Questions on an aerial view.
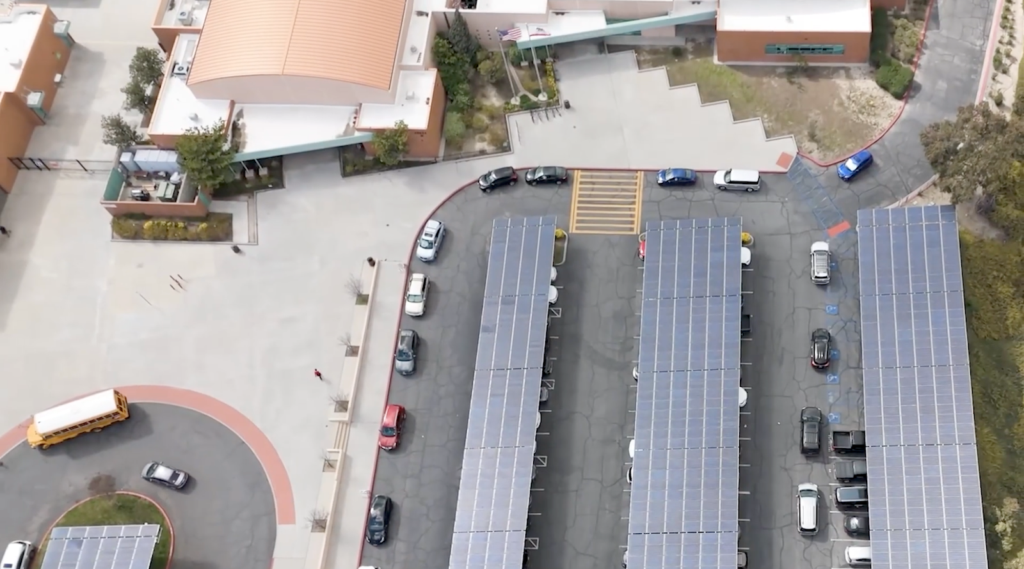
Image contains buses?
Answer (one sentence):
Yes, you can see a bus in this photo.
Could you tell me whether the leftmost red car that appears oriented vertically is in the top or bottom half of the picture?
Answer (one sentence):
You can find the leftmost red car that appears oriented vertically in the bottom half.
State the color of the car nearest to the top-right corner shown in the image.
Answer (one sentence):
The car nearest to the top-right corner is blue.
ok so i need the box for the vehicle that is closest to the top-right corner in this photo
[834,148,879,182]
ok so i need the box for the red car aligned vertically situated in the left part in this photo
[379,404,405,451]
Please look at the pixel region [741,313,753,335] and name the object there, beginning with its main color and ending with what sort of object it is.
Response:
black vehicle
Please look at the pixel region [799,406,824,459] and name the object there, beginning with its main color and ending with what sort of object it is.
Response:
gray car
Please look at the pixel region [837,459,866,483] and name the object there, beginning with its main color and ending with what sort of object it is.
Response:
gray truck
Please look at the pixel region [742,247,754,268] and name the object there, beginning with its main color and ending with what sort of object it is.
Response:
white vehicle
